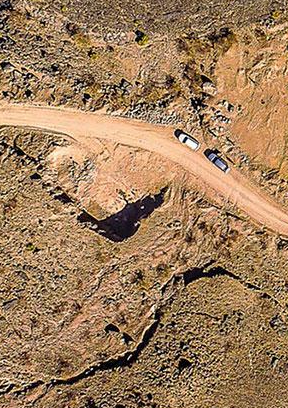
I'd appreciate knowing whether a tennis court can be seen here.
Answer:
No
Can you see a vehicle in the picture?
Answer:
Yes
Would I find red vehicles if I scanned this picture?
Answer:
No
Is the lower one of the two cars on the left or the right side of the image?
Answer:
right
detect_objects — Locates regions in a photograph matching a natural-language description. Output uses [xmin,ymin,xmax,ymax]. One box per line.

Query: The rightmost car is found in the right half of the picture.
[206,154,229,174]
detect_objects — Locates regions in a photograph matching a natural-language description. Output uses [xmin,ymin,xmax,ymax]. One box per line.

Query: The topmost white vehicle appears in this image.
[175,133,199,151]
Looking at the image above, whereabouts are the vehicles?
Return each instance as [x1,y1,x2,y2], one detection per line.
[206,154,229,174]
[175,133,199,151]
